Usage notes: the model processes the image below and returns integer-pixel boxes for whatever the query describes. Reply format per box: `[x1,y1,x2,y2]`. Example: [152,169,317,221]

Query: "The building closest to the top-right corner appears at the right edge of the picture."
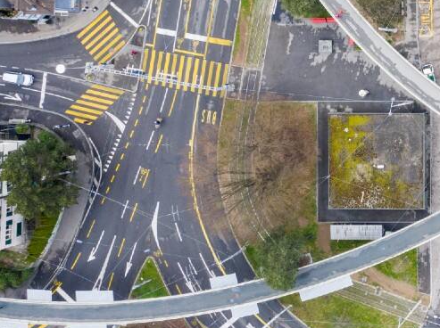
[327,113,428,210]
